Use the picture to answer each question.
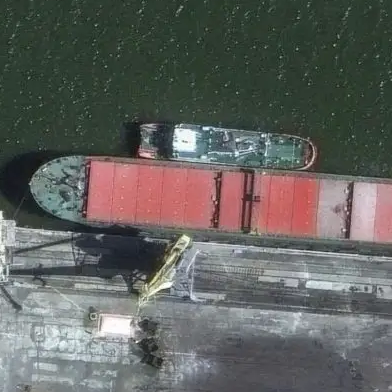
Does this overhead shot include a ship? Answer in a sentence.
Yes, a ship can be made out from above.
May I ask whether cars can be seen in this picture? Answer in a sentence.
No, I can't see a single car in this photo.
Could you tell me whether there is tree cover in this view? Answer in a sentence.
No, no tree cover is visible.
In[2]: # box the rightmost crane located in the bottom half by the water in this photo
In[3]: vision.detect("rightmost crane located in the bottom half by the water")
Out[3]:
[136,237,206,310]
